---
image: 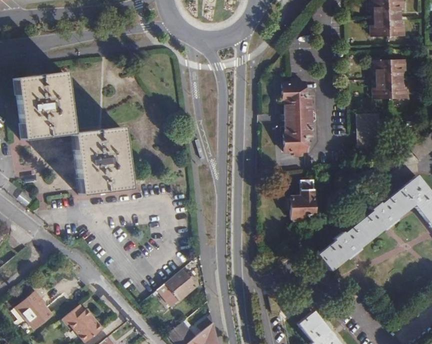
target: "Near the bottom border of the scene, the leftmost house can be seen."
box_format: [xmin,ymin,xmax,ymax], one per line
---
[8,290,54,332]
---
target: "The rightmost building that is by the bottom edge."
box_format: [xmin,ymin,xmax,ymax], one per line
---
[296,310,343,344]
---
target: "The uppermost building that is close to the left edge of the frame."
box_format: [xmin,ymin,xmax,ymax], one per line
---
[14,72,78,140]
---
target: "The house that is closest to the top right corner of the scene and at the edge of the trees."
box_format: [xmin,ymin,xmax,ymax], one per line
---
[369,0,406,37]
